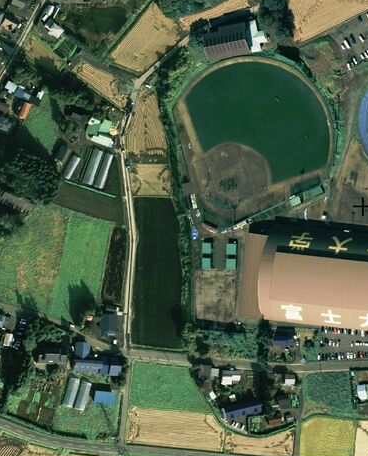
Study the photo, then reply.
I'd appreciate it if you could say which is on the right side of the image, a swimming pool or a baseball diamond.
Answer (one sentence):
Visible on the right side of the image is a baseball diamond.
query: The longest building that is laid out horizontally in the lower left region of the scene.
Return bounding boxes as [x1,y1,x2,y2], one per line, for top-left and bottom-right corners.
[73,361,123,376]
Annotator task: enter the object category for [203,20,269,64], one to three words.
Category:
building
